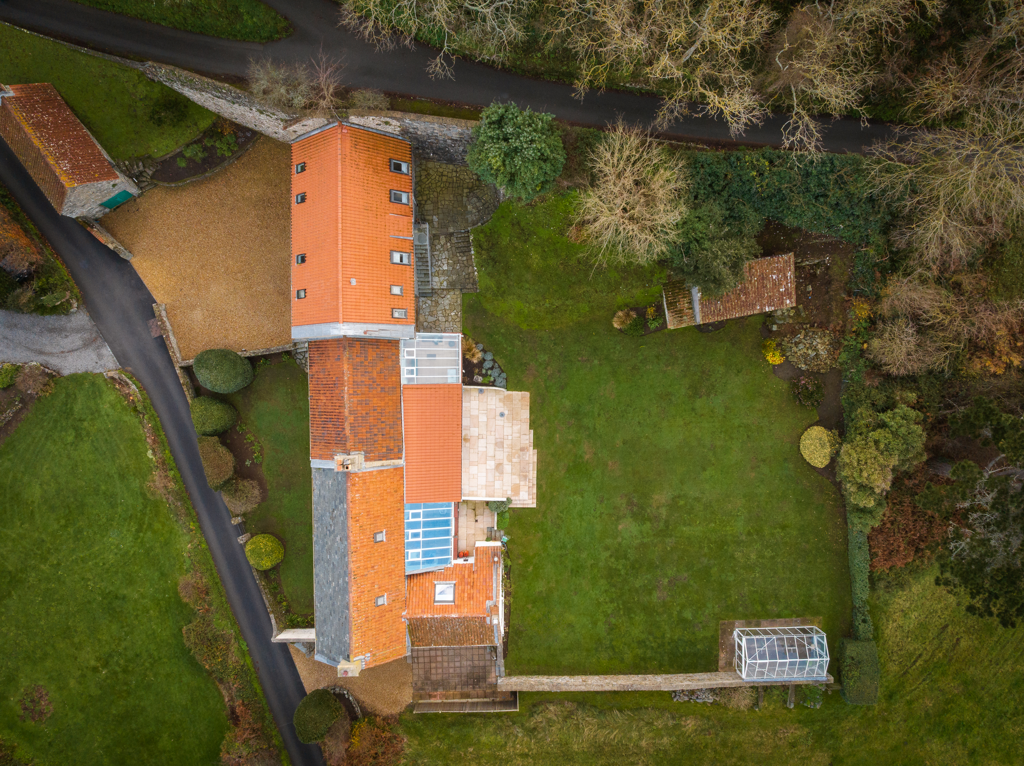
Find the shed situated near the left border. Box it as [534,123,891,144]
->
[0,83,141,219]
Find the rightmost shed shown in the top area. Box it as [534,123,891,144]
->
[661,252,796,328]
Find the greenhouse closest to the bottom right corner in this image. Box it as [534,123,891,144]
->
[735,626,831,683]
